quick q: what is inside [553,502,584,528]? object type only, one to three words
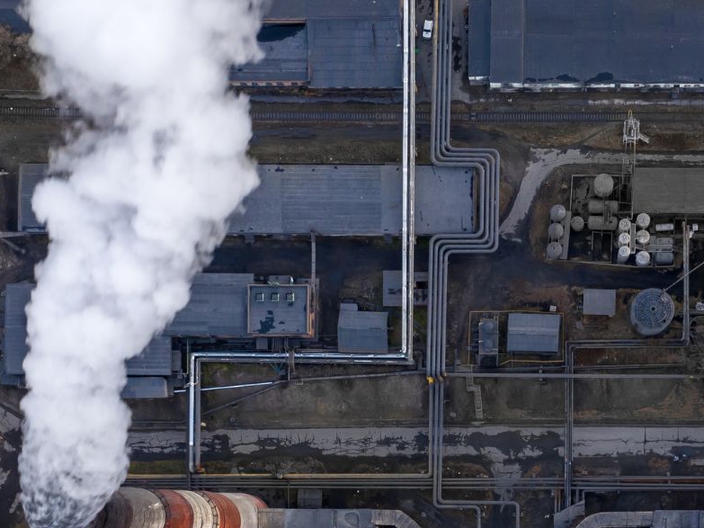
shed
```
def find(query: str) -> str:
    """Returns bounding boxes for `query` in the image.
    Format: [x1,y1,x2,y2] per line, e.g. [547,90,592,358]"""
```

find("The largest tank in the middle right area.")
[630,289,673,335]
